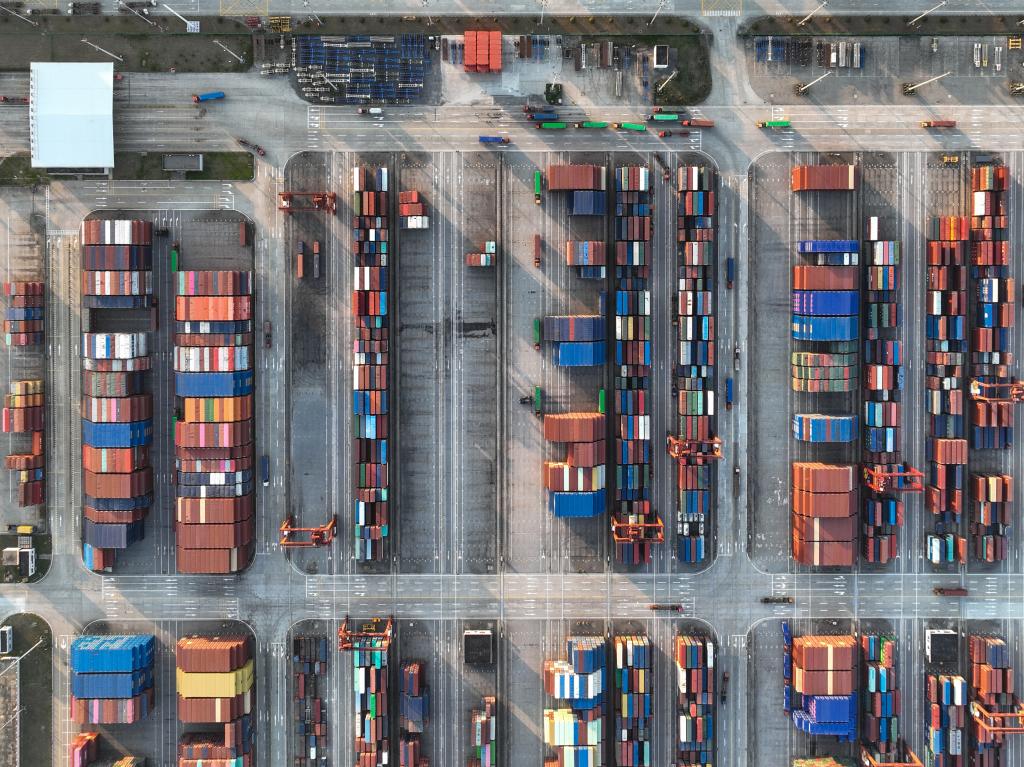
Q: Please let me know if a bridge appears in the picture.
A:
No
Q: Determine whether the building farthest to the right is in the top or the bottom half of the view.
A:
bottom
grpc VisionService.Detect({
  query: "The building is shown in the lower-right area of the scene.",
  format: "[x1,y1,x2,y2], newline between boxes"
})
[925,630,958,663]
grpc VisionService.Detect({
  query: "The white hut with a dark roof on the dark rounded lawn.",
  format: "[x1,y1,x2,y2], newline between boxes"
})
[652,45,668,69]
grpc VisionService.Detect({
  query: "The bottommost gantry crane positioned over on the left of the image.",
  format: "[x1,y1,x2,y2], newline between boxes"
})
[335,615,396,651]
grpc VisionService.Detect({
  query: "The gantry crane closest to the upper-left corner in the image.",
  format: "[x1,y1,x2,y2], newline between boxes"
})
[277,191,339,216]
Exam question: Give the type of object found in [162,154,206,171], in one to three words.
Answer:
building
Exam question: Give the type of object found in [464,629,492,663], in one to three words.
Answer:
building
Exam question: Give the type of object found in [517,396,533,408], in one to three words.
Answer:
vehicle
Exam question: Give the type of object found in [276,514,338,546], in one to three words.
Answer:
container crane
